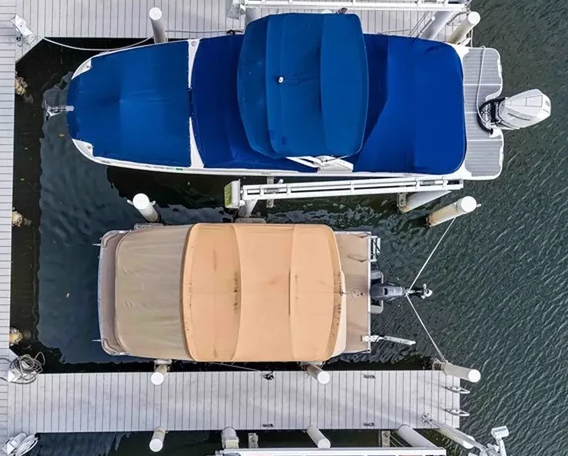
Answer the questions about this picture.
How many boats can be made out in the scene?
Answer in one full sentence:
My tally gives 2 boats in this view.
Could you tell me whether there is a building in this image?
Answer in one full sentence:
No, the frame has no building in it.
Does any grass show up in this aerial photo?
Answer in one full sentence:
No, the scene doesn't show any grass.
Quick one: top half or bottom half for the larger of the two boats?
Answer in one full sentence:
The larger of the two boats sits in the top half of the picture.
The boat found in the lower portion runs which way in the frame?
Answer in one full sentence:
I'd say the boat found in the lower portion is aligned from left to right in the picture.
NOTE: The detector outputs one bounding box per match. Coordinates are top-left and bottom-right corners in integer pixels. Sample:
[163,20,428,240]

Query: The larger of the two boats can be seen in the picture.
[44,14,549,182]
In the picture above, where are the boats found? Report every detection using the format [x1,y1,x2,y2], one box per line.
[44,14,549,182]
[92,216,436,369]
